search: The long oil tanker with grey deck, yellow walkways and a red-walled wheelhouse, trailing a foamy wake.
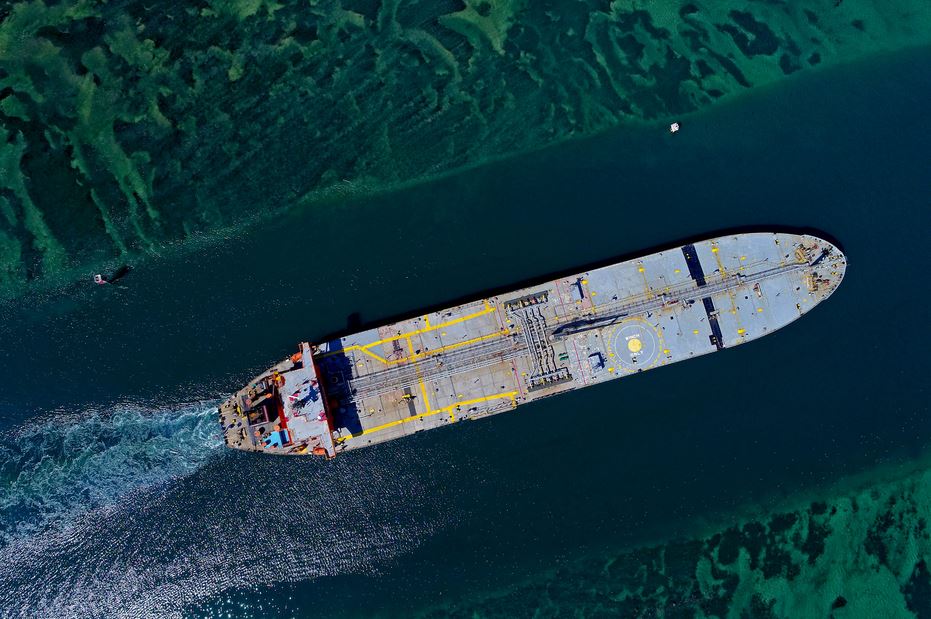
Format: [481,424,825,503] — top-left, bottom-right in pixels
[217,235,848,458]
